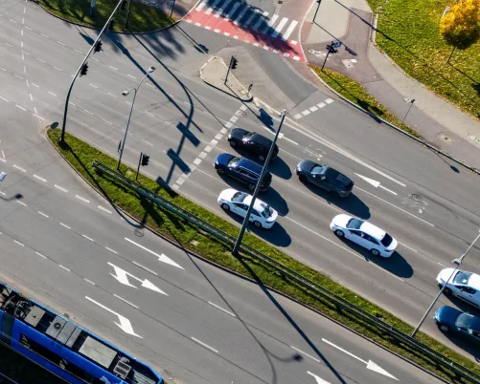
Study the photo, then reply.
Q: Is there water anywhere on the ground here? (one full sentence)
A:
No, the scene doesn't show any water.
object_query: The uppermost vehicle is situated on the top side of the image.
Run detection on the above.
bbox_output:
[224,129,283,165]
